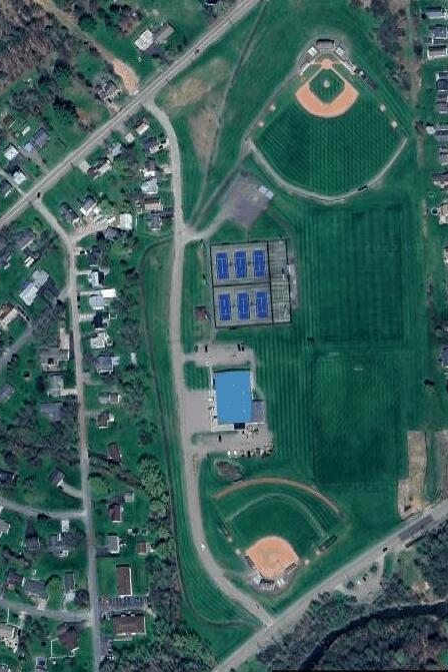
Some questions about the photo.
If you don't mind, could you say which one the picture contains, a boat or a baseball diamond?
baseball diamond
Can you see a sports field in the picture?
Yes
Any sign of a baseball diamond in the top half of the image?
Yes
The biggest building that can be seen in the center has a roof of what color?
blue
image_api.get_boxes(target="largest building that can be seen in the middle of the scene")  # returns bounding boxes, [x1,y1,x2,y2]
[212,369,266,432]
